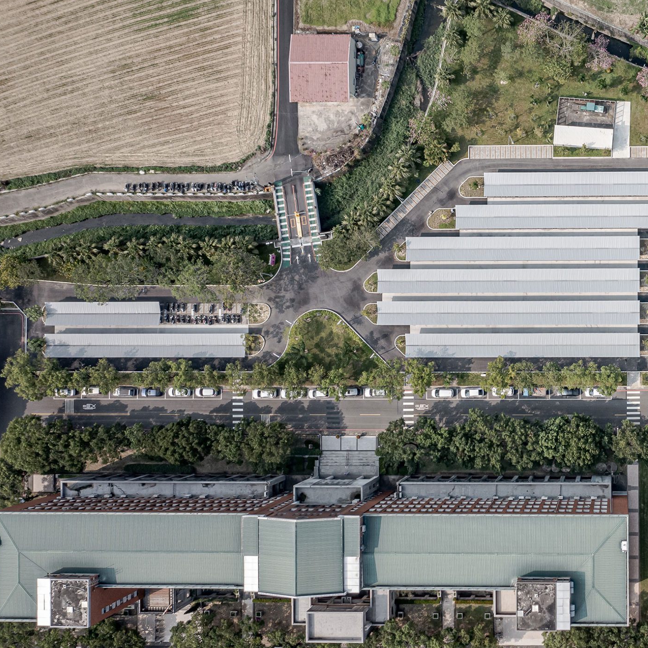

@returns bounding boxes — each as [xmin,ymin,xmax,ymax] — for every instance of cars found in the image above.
[281,389,302,398]
[366,389,387,398]
[494,388,514,396]
[432,388,453,398]
[59,388,75,397]
[556,388,579,396]
[338,387,360,397]
[113,387,136,397]
[196,387,217,397]
[584,389,606,397]
[309,389,330,398]
[253,389,276,398]
[461,388,484,396]
[142,388,161,396]
[81,387,101,396]
[168,388,190,396]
